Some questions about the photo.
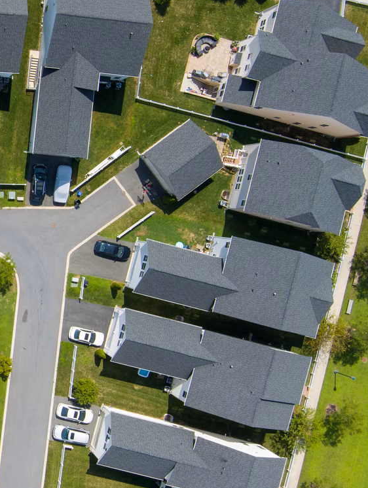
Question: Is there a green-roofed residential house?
No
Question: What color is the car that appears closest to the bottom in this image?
white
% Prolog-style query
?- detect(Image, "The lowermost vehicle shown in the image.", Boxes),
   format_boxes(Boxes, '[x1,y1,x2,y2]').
[51,424,90,446]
